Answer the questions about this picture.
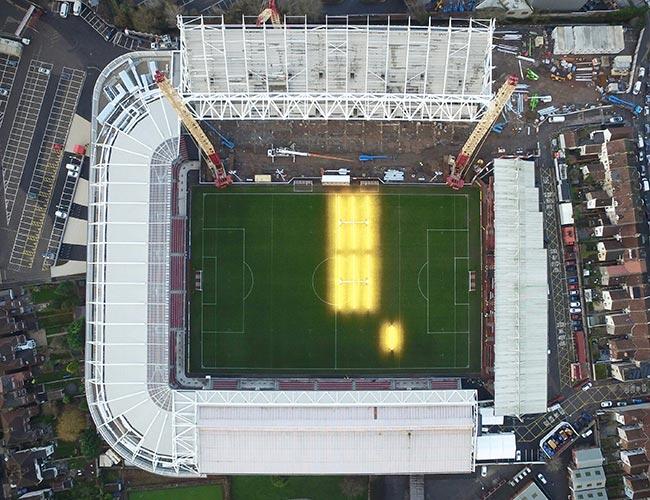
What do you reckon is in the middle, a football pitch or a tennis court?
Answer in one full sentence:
There is a football pitch in the middle.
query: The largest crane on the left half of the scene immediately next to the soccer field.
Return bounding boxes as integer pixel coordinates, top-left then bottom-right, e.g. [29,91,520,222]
[152,74,234,189]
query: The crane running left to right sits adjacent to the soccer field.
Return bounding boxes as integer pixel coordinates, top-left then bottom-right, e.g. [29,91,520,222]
[266,143,369,167]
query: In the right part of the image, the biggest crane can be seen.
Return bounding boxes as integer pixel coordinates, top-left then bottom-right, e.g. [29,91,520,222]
[446,77,519,189]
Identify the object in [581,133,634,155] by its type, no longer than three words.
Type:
house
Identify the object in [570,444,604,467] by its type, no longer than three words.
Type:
building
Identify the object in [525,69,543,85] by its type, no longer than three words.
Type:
work vehicle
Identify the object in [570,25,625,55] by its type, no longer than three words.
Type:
shed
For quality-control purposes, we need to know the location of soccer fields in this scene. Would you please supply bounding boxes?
[190,185,479,372]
